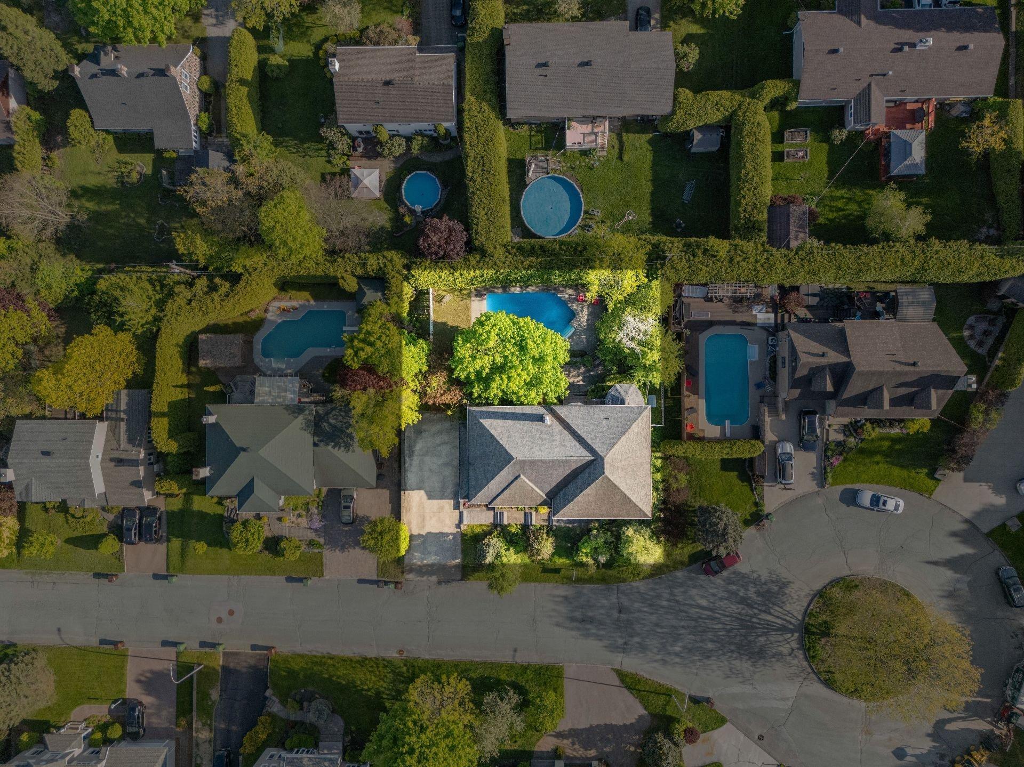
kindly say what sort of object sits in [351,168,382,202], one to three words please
gazebo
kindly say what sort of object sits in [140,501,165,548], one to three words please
car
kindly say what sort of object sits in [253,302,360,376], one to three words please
swimming pool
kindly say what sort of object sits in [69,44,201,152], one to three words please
house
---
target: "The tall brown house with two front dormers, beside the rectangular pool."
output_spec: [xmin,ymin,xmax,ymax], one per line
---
[778,320,977,418]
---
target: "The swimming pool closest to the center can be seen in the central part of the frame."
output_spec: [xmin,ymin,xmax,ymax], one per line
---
[471,288,599,349]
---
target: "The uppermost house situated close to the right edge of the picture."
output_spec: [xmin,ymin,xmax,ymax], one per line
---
[789,0,1005,136]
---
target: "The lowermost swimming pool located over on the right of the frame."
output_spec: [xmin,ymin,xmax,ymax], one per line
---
[700,326,767,440]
